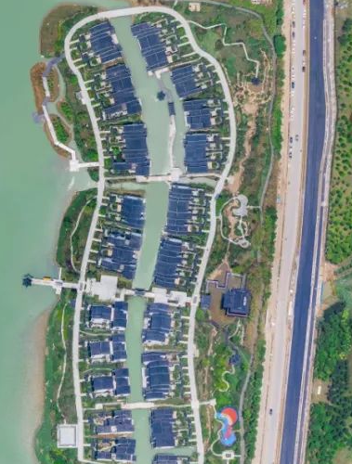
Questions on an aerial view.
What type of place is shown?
residential area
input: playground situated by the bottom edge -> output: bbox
[217,408,238,446]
